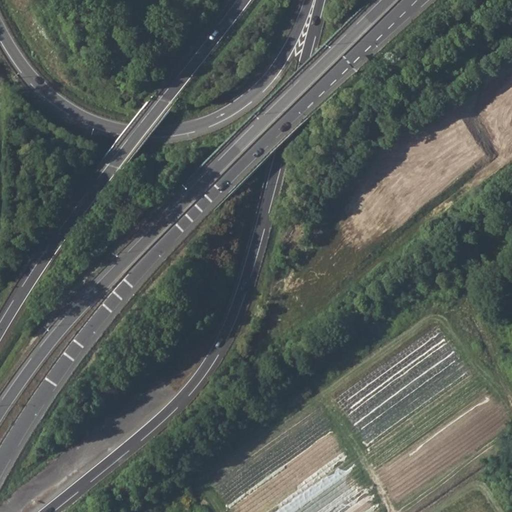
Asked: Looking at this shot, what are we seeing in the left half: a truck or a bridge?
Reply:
bridge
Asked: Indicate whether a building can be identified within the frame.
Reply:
No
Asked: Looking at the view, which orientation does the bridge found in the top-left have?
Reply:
on a diagonal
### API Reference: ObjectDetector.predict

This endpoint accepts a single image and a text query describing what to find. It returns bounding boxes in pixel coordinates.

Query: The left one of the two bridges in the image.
[95,92,175,180]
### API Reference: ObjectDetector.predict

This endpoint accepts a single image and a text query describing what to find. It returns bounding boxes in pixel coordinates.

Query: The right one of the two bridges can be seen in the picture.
[197,0,364,212]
